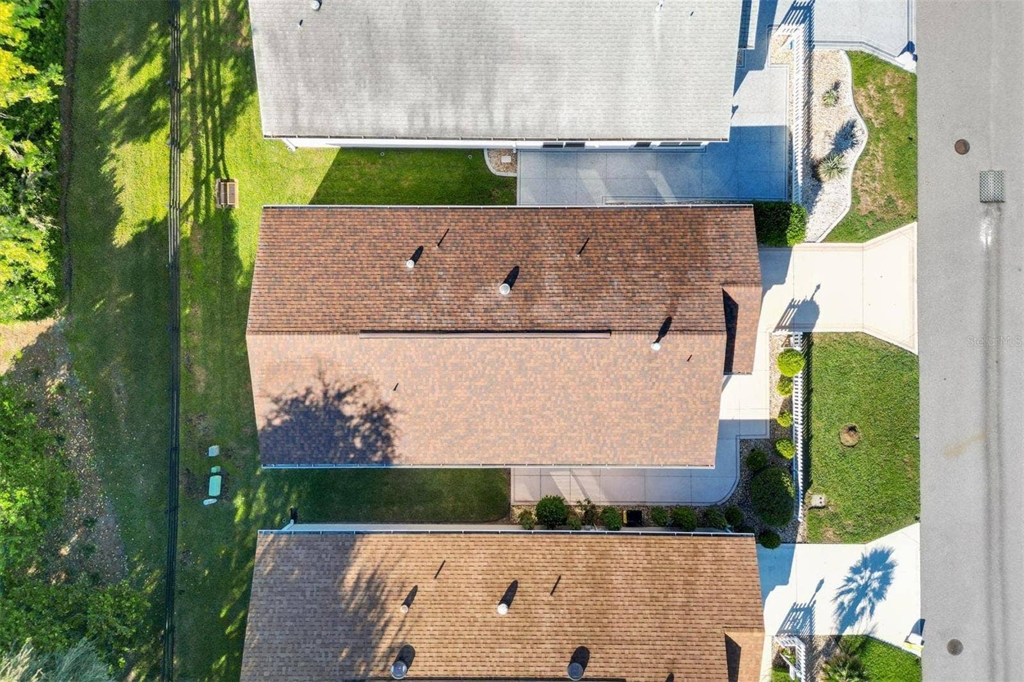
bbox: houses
[244,504,768,682]
[247,202,761,470]
[251,0,763,156]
